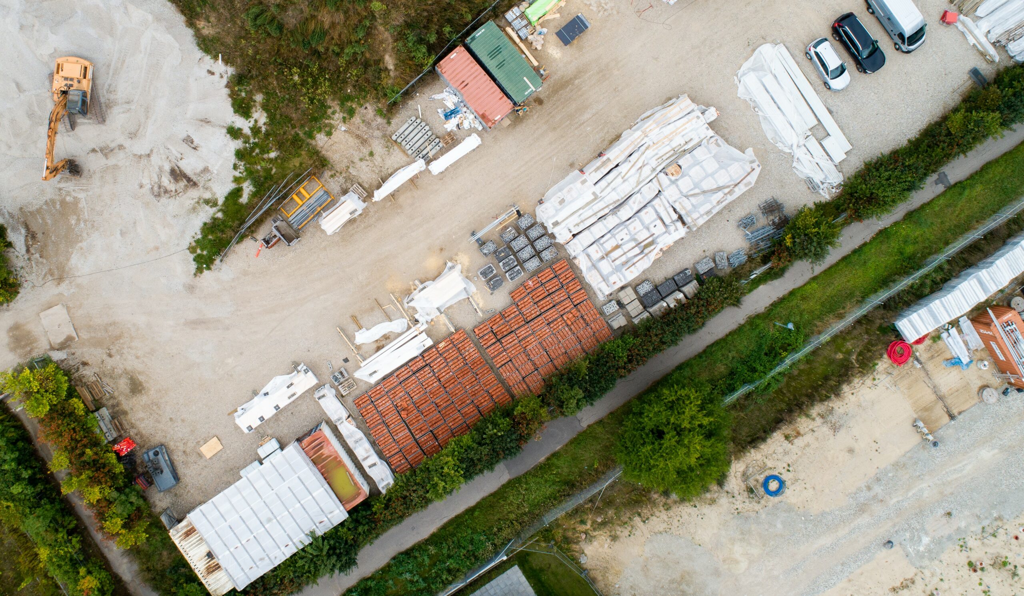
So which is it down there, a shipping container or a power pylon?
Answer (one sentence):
The one in the frame is a shipping container.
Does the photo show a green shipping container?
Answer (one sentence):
Yes, there's a green shipping container here.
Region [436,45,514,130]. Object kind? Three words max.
shipping container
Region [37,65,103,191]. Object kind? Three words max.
work vehicle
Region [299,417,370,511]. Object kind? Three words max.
shipping container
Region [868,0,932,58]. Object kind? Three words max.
van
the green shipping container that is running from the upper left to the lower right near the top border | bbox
[465,19,543,106]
